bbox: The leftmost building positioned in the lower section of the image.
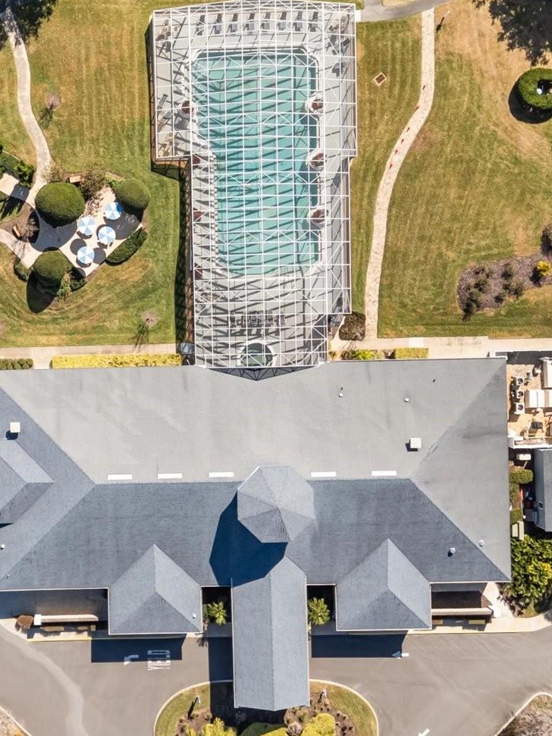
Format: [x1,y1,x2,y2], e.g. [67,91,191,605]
[0,357,511,710]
